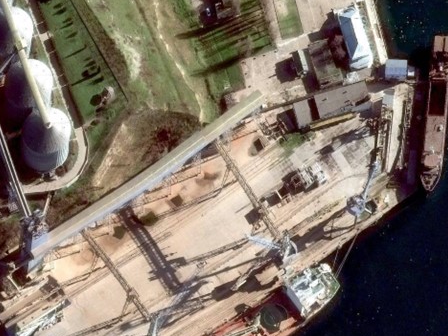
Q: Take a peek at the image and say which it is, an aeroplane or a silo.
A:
silo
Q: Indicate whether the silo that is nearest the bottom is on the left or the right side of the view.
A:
left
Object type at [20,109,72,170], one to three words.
silo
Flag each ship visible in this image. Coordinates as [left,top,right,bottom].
[421,36,448,193]
[196,260,339,336]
